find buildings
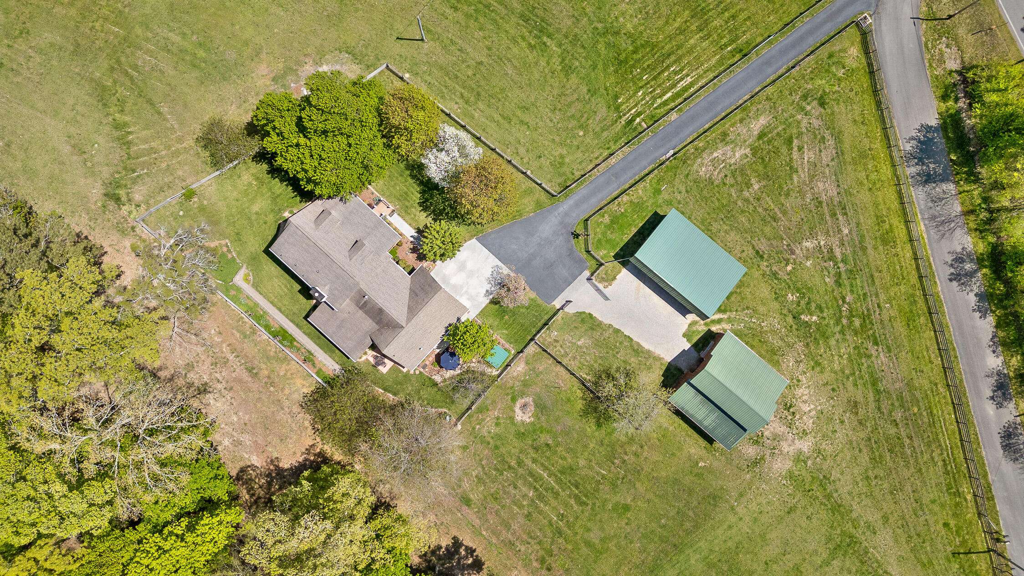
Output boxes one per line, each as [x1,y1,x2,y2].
[269,180,469,372]
[668,330,789,451]
[629,208,747,319]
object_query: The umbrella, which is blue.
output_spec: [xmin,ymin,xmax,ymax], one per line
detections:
[441,351,459,368]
